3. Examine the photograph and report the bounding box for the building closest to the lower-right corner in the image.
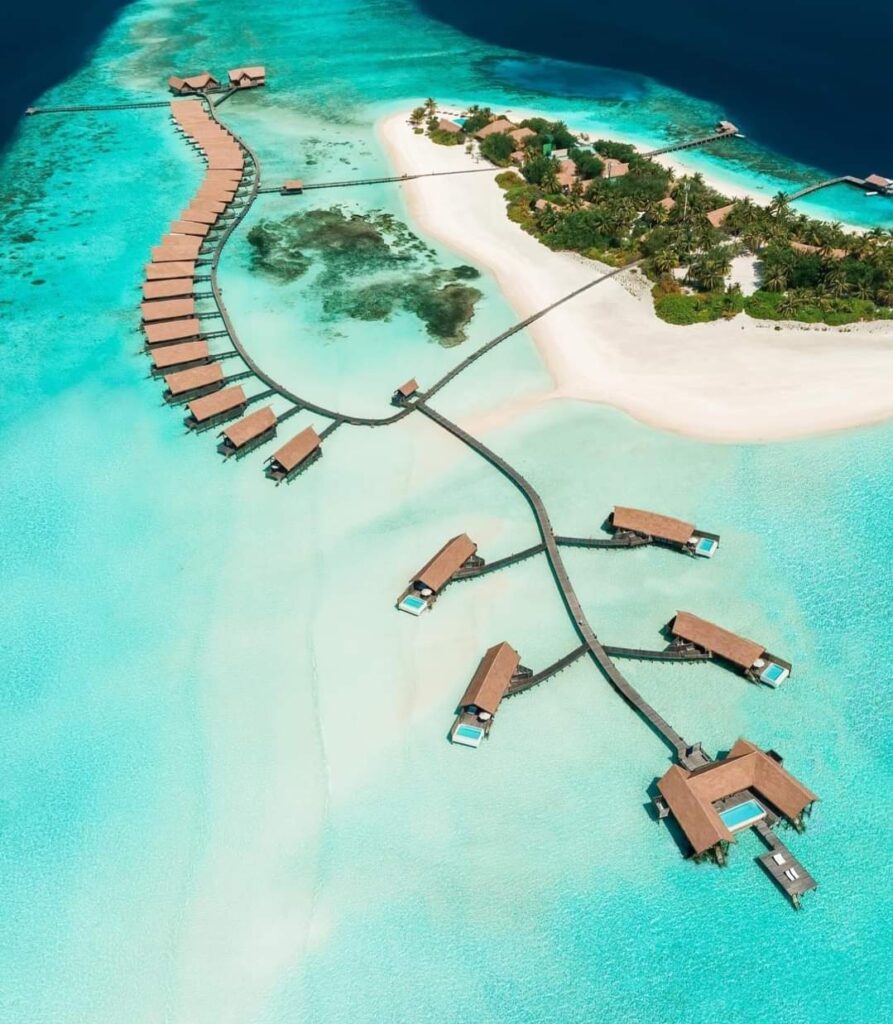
[645,737,815,876]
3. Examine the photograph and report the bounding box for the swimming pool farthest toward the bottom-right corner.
[718,797,766,832]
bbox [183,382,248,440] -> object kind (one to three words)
house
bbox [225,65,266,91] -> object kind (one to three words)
house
